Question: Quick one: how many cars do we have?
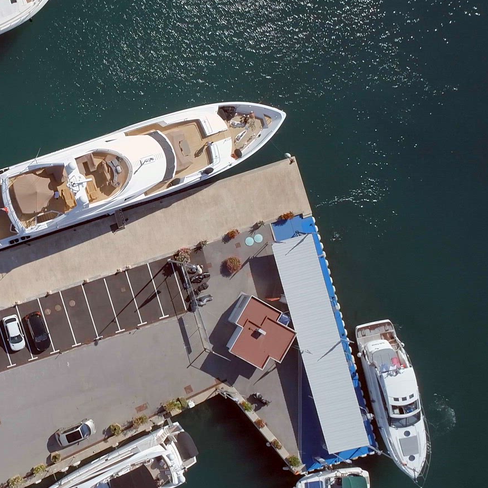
3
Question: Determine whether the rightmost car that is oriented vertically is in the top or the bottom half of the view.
bottom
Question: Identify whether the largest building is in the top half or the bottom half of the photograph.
bottom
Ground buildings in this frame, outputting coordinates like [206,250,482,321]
[220,292,296,370]
[266,234,370,454]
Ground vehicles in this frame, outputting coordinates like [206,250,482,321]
[54,419,95,447]
[190,274,208,283]
[25,311,48,351]
[253,394,271,406]
[2,314,24,352]
[187,266,204,272]
[193,284,209,294]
